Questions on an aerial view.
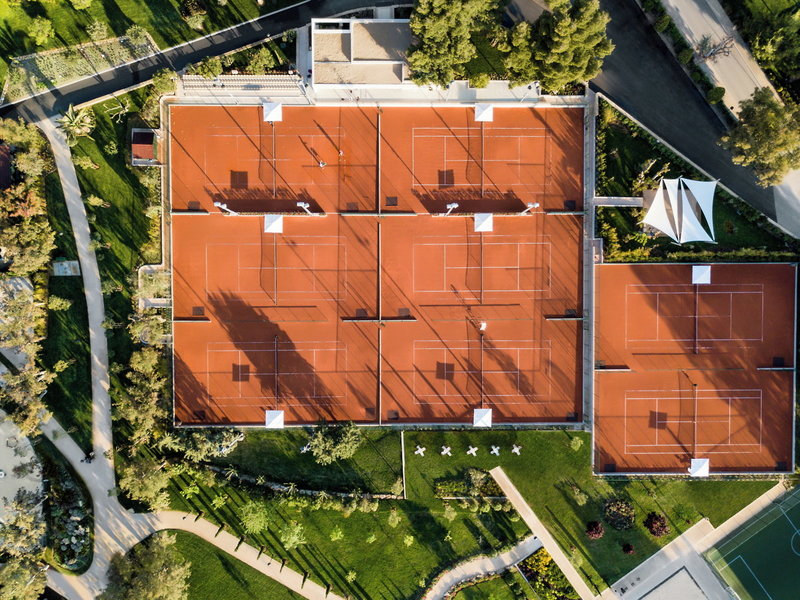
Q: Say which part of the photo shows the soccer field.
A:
bottom right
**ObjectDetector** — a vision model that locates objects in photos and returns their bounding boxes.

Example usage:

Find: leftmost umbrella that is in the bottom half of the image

[266,409,284,428]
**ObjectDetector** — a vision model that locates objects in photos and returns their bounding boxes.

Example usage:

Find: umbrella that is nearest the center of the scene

[474,213,493,232]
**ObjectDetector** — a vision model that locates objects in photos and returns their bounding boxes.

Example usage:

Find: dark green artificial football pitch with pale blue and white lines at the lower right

[704,480,800,600]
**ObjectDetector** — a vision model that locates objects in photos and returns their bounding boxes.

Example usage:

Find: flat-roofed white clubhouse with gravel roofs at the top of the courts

[312,16,411,93]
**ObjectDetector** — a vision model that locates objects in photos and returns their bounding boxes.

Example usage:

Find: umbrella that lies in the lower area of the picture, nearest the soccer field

[688,458,708,476]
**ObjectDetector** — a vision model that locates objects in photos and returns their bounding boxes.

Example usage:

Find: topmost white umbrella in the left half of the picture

[262,102,282,122]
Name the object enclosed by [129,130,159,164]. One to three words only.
shed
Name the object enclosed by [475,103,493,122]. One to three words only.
umbrella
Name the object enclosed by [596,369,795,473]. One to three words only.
tennis court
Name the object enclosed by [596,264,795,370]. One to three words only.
tennis court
